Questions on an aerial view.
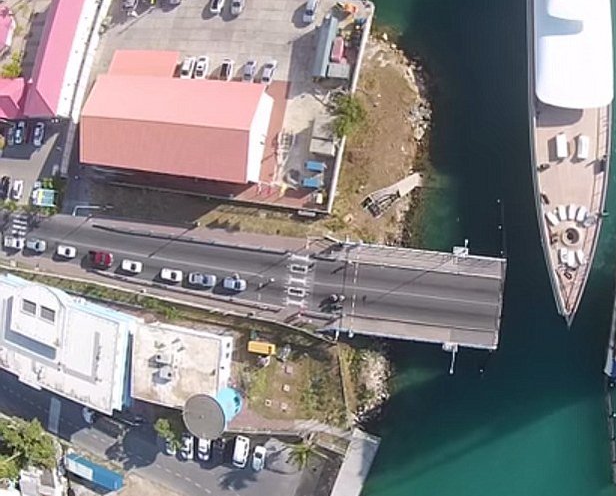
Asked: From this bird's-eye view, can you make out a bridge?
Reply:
Yes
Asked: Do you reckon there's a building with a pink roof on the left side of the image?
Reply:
Yes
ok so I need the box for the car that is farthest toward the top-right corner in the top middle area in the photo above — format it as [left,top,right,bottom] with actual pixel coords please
[303,0,319,25]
